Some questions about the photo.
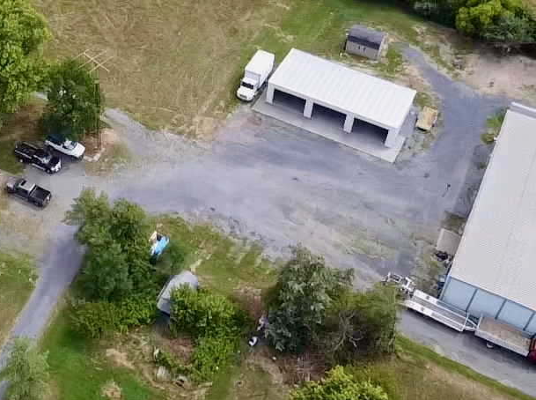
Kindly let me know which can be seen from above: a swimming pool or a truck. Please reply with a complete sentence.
The image shows a truck.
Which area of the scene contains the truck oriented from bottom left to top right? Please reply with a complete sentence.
The truck oriented from bottom left to top right is located in the top region of the scene.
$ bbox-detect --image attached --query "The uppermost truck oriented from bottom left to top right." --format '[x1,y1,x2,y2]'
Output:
[240,48,282,101]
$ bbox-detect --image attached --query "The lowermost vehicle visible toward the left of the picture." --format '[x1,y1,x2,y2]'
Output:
[4,178,52,205]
